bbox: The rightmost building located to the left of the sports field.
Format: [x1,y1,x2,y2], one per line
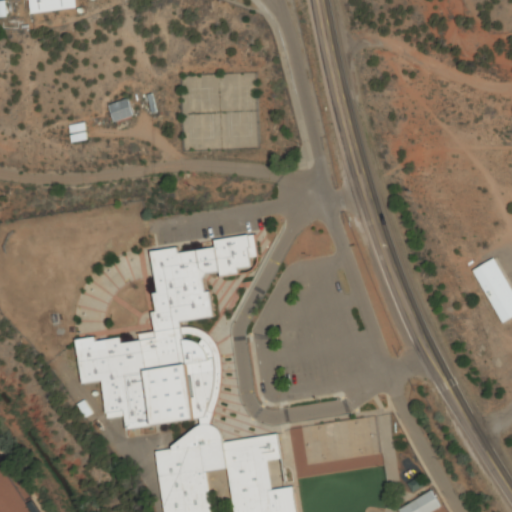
[224,434,297,512]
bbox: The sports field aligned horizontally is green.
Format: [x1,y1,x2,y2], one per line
[299,466,388,512]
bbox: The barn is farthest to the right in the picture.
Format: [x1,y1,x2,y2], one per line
[474,258,512,322]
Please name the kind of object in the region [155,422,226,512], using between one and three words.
building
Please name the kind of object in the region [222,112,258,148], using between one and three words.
sports court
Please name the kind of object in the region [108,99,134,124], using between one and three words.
house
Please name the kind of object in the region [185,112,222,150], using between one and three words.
sports court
